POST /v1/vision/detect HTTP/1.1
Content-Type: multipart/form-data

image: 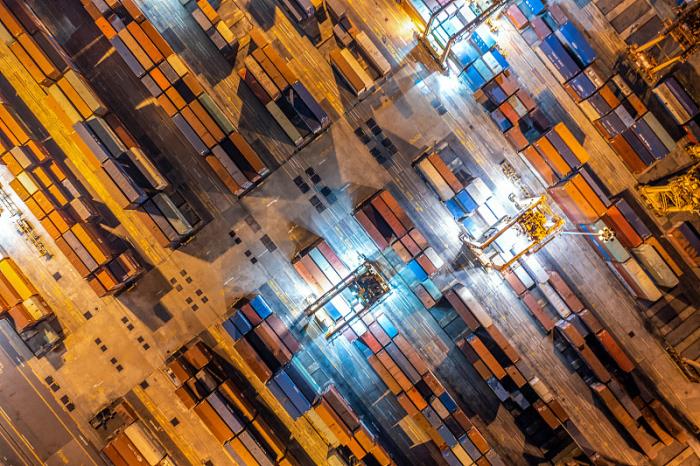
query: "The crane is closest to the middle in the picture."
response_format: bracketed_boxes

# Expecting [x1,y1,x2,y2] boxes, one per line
[302,251,395,341]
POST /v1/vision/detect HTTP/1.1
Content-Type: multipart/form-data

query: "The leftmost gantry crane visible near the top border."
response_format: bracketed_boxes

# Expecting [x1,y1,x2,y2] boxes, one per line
[412,0,507,70]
